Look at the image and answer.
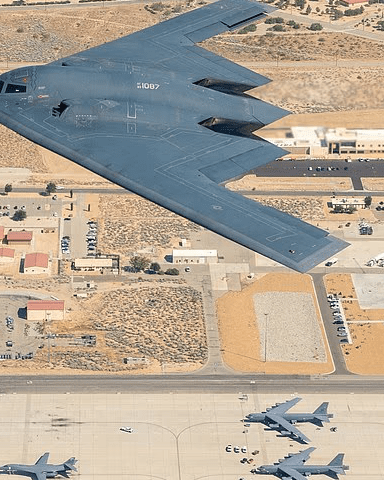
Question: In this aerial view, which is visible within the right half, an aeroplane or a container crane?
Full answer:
The one visible within the right half is an aeroplane.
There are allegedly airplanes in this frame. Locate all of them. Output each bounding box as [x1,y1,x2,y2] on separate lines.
[0,0,349,271]
[0,450,79,480]
[253,445,347,480]
[246,395,336,443]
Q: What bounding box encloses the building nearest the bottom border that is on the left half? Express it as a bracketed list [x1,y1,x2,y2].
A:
[27,299,64,320]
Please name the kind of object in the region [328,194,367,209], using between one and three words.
building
